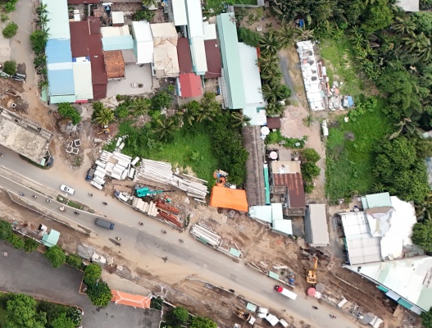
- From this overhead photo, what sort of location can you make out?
residential area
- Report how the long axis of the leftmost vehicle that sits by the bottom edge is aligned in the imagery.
at an angle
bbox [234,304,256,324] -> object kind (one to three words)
vehicle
